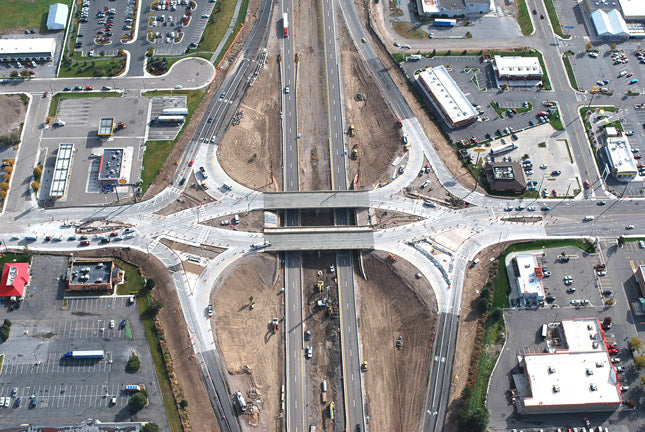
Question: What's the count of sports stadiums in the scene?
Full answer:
No sports stadiums are visible.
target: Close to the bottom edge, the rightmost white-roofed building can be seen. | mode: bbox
[511,317,625,414]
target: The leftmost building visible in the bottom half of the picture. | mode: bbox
[0,263,33,301]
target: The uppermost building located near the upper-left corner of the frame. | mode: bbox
[47,3,69,30]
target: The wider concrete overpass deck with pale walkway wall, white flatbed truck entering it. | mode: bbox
[264,223,375,251]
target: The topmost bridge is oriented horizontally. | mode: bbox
[263,189,373,211]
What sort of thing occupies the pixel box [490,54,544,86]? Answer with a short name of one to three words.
building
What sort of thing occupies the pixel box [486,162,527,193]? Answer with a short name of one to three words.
building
